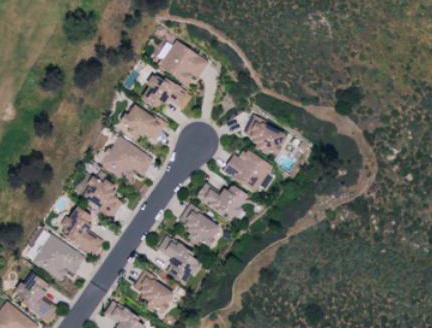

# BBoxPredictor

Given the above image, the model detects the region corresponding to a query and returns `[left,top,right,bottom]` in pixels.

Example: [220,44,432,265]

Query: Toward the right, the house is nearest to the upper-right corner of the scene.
[242,114,287,158]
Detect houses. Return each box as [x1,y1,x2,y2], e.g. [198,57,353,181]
[158,236,202,284]
[60,208,102,254]
[242,114,287,158]
[32,234,84,281]
[12,272,56,321]
[179,204,220,247]
[142,74,191,109]
[0,301,38,328]
[82,176,122,216]
[105,302,144,328]
[224,150,272,192]
[100,137,152,184]
[197,184,250,222]
[159,40,208,84]
[120,104,167,139]
[134,271,174,315]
